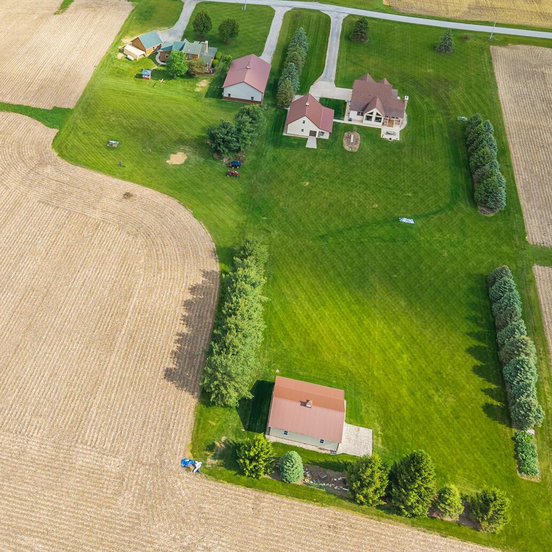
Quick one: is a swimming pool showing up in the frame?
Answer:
No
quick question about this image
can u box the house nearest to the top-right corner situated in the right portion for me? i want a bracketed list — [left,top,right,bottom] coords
[349,73,411,129]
